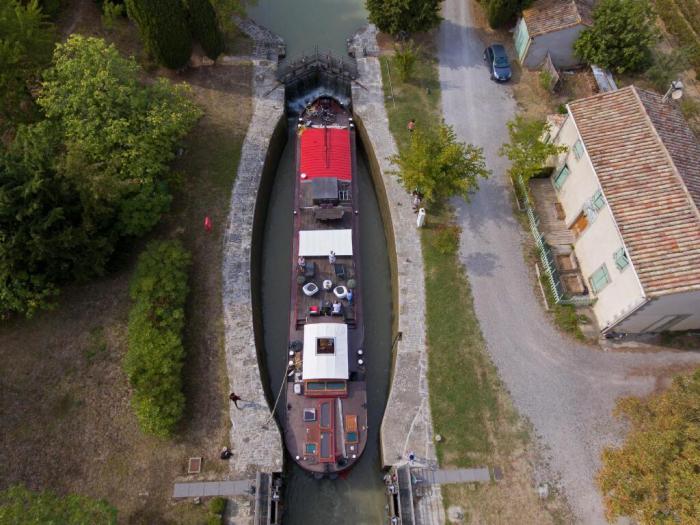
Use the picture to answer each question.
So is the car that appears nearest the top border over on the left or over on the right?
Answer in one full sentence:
The car that appears nearest the top border appears in the right half of the scene.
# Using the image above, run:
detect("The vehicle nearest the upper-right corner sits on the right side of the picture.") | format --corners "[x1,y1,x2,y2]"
[486,39,515,80]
